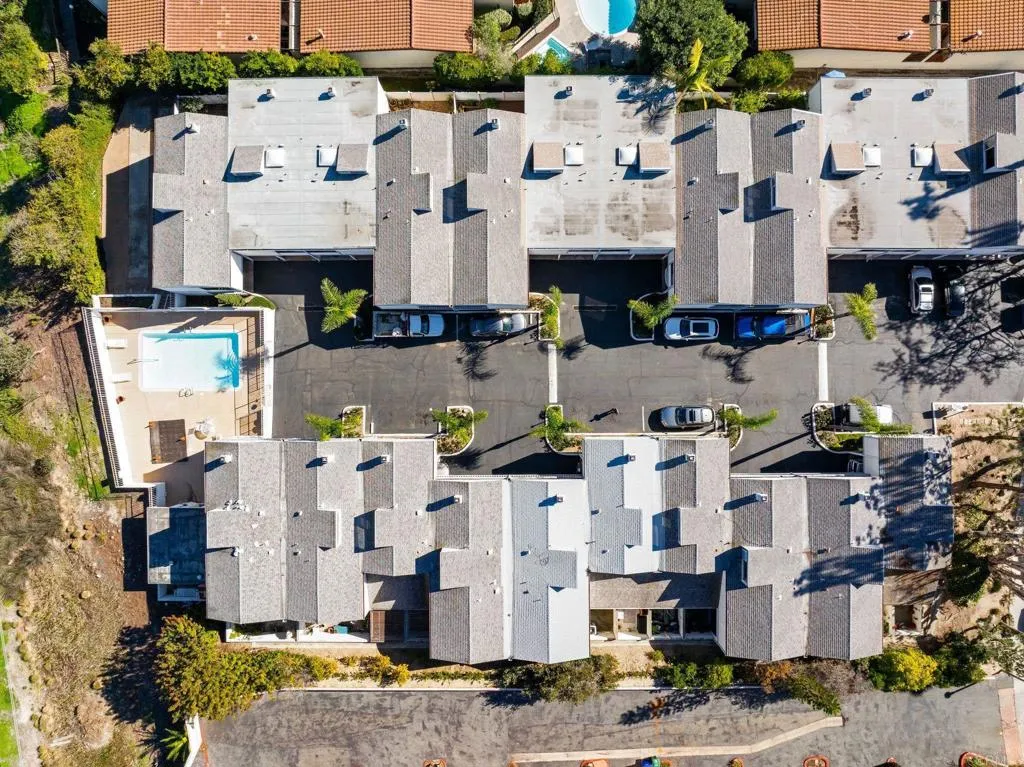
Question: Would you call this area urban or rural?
urban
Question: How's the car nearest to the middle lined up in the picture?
horizontally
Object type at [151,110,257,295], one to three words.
house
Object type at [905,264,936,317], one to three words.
car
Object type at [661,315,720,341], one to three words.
car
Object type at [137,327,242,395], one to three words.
swimming pool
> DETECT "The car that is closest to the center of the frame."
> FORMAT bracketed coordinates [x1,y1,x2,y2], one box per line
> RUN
[470,312,528,338]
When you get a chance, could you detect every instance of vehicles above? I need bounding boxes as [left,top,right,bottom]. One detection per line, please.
[661,315,720,341]
[372,310,444,337]
[735,312,812,340]
[656,404,716,430]
[470,312,528,338]
[905,264,936,317]
[937,270,969,325]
